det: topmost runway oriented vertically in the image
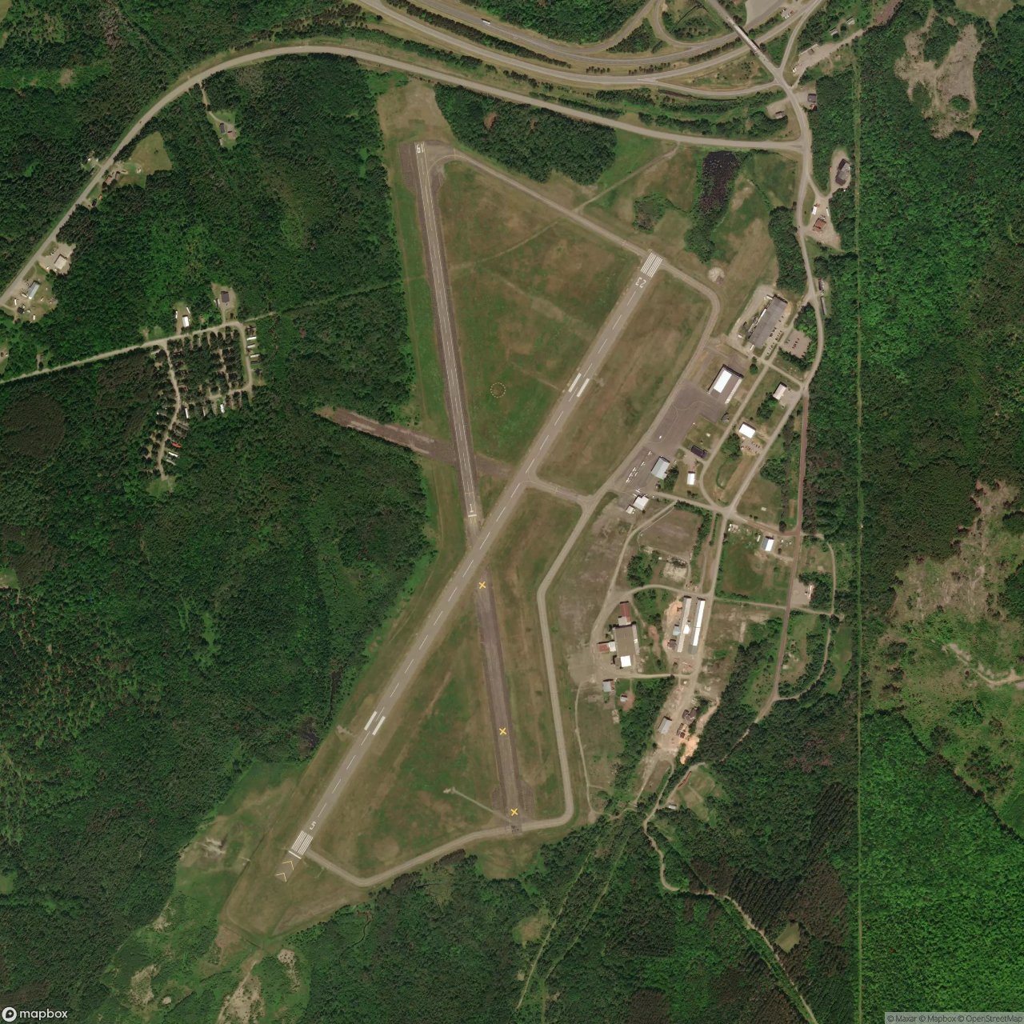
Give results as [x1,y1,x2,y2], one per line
[400,141,481,546]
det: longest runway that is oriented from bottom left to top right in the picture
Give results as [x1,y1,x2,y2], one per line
[272,246,668,886]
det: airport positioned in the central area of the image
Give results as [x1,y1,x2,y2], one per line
[272,141,749,887]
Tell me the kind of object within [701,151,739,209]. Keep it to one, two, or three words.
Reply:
pond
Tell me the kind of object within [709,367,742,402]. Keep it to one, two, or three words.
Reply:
hangar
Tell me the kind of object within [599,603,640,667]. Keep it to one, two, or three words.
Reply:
building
